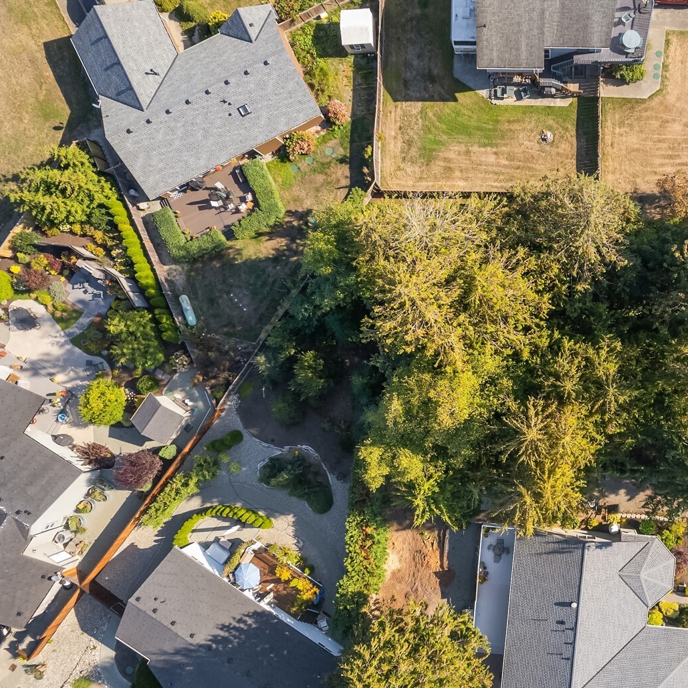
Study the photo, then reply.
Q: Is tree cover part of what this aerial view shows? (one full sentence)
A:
Yes, tree cover shows up in the scene.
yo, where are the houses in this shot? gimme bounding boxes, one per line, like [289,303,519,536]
[115,543,346,688]
[474,0,615,93]
[501,527,688,688]
[70,0,326,202]
[0,373,99,629]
